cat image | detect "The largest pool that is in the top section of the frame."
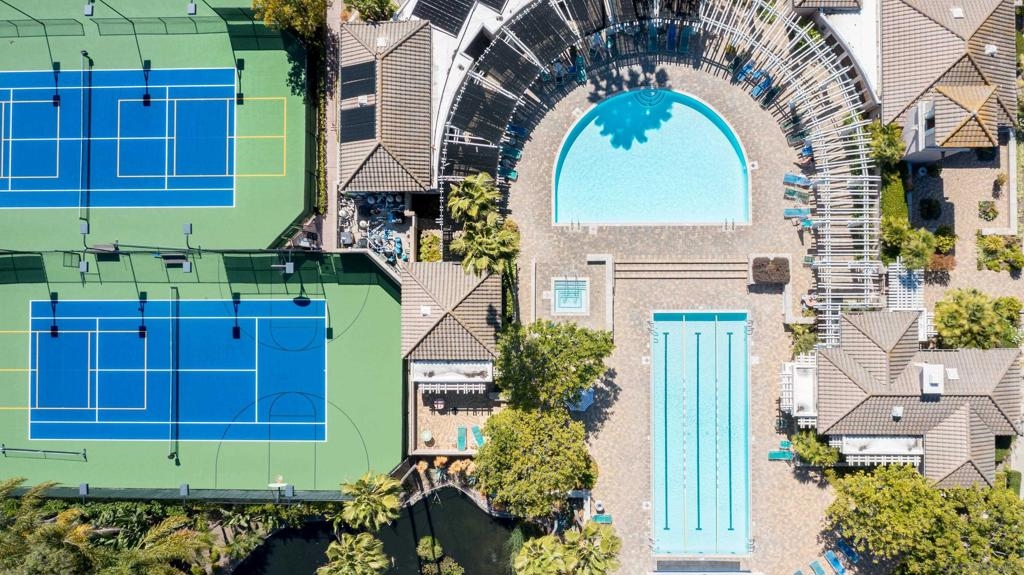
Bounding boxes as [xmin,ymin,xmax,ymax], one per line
[550,86,752,227]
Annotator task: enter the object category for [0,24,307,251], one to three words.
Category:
tennis court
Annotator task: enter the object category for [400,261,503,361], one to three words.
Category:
building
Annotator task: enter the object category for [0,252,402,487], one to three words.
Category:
sports court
